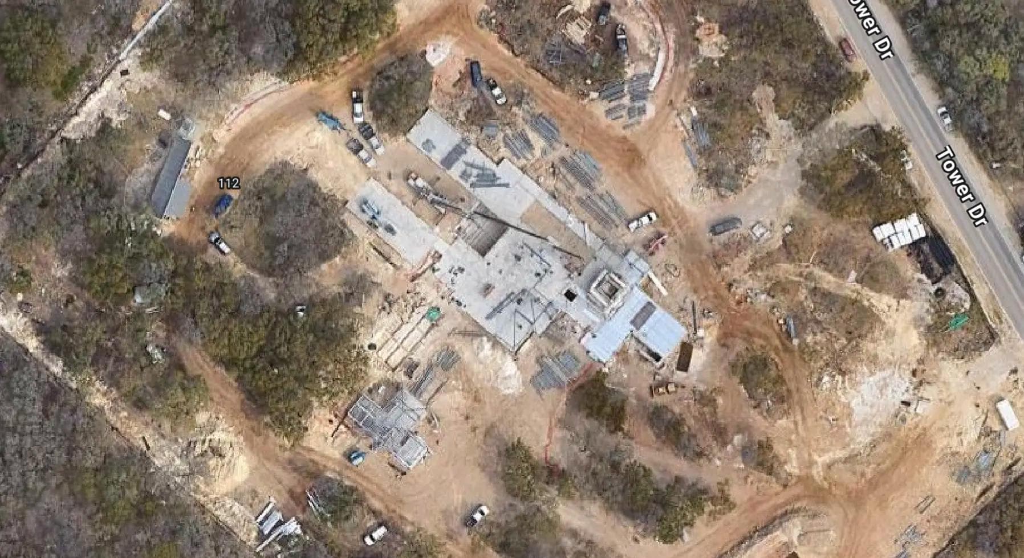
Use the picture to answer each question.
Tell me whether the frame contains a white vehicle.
Yes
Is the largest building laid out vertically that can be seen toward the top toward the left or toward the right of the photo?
left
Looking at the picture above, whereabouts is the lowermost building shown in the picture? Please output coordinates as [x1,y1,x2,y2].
[348,389,428,468]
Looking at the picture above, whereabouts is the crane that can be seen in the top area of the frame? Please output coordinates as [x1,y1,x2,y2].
[408,171,581,258]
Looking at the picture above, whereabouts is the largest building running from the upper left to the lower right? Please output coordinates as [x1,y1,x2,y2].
[346,109,687,365]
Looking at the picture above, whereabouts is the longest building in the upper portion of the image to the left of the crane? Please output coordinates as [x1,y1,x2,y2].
[150,138,193,218]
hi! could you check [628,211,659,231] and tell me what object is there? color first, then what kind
white vehicle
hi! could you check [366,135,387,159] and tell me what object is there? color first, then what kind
white truck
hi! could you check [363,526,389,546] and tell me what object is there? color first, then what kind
white car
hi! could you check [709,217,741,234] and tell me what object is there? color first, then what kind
gray car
